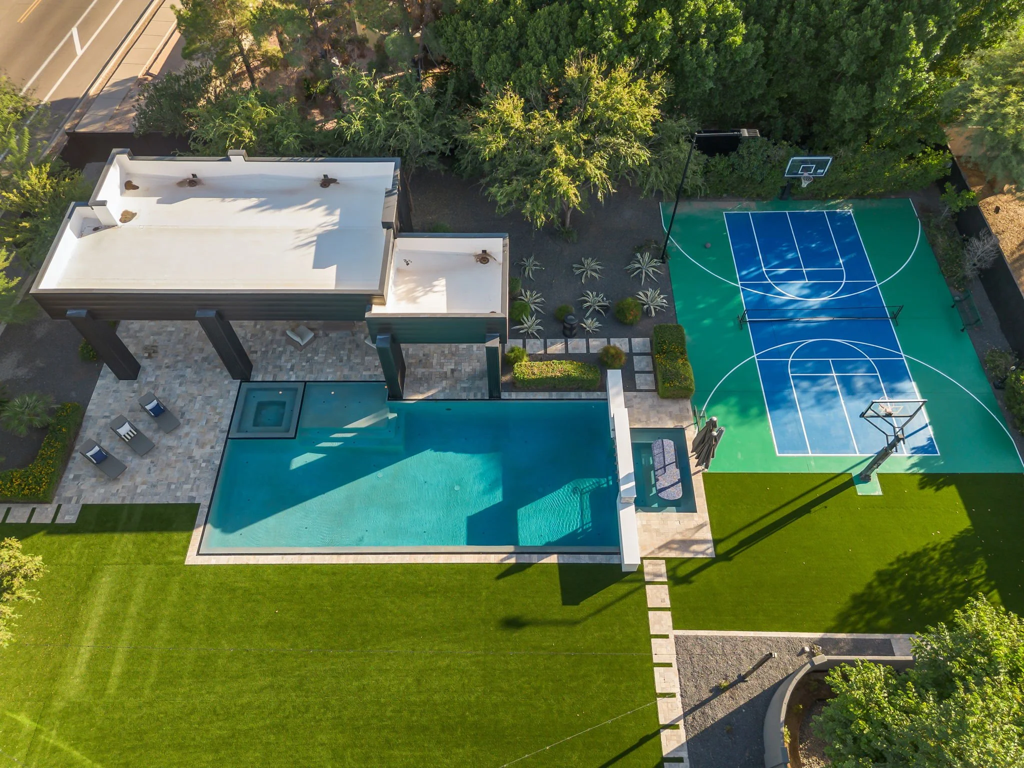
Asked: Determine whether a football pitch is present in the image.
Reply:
No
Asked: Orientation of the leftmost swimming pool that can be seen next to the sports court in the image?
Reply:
horizontally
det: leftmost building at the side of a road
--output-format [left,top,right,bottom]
[30,147,509,398]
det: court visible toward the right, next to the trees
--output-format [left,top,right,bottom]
[660,194,1024,495]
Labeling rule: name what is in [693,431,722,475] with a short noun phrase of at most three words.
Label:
umbrella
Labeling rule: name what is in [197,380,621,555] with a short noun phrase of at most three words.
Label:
swimming pool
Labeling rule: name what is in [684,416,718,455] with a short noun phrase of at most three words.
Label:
umbrella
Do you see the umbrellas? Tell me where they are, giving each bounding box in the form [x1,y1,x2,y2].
[693,431,722,475]
[684,416,718,455]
